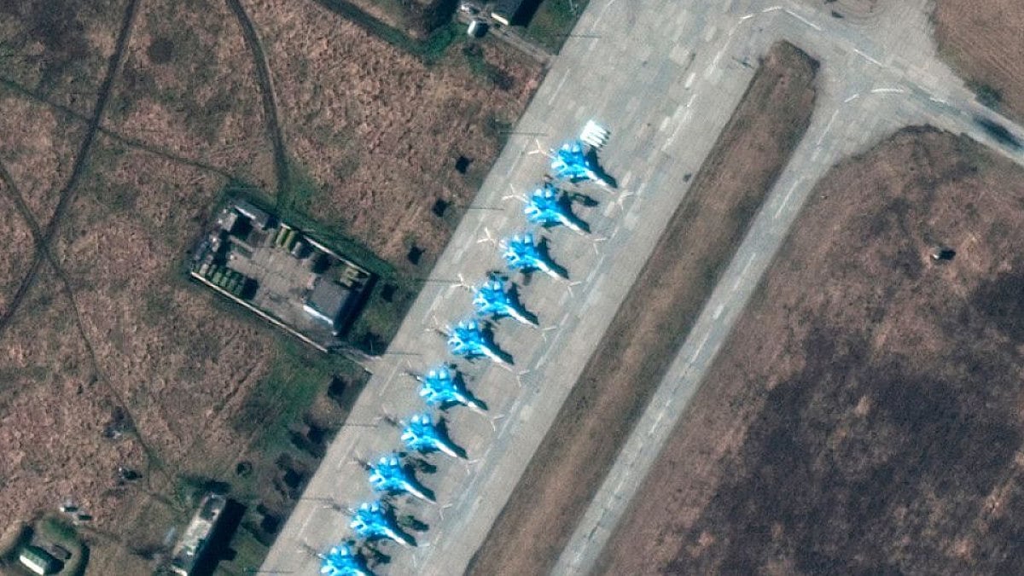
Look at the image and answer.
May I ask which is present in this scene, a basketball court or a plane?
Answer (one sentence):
Looking from above, you can make out a plane.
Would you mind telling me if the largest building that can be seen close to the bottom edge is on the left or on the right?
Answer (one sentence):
It is on the left.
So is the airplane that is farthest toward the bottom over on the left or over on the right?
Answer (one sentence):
You can find the airplane that is farthest toward the bottom on the left side of the picture.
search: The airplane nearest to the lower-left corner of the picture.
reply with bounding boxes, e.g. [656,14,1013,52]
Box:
[317,548,360,576]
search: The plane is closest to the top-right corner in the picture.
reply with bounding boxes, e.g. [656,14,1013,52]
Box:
[549,144,608,186]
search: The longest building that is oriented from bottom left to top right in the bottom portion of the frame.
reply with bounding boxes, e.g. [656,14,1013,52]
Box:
[173,492,228,571]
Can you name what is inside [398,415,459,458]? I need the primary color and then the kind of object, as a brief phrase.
blue airplane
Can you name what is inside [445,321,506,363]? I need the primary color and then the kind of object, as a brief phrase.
blue airplane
